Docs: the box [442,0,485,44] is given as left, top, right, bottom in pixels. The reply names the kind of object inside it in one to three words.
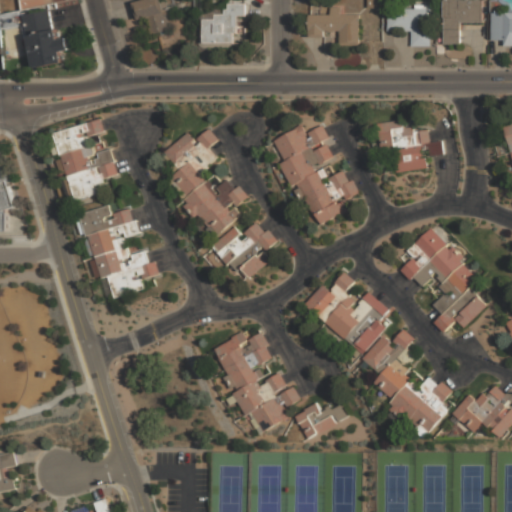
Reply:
house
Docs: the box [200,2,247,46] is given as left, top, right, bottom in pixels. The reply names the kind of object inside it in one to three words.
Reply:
house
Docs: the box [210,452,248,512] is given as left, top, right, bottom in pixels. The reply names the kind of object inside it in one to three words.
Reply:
tennis court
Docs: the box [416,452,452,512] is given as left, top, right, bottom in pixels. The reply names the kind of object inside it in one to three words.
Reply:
tennis court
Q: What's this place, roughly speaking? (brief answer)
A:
residential area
